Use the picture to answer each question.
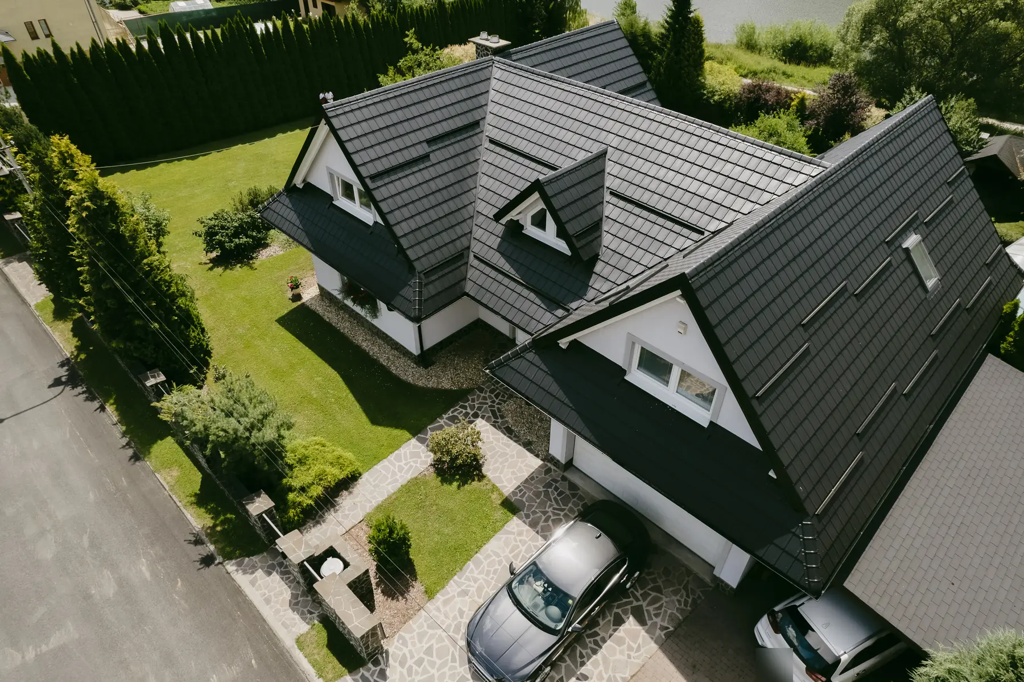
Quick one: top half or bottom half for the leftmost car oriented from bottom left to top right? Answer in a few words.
bottom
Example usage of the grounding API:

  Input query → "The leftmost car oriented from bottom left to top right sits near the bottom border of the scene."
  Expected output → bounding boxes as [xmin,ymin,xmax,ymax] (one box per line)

[465,495,655,682]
